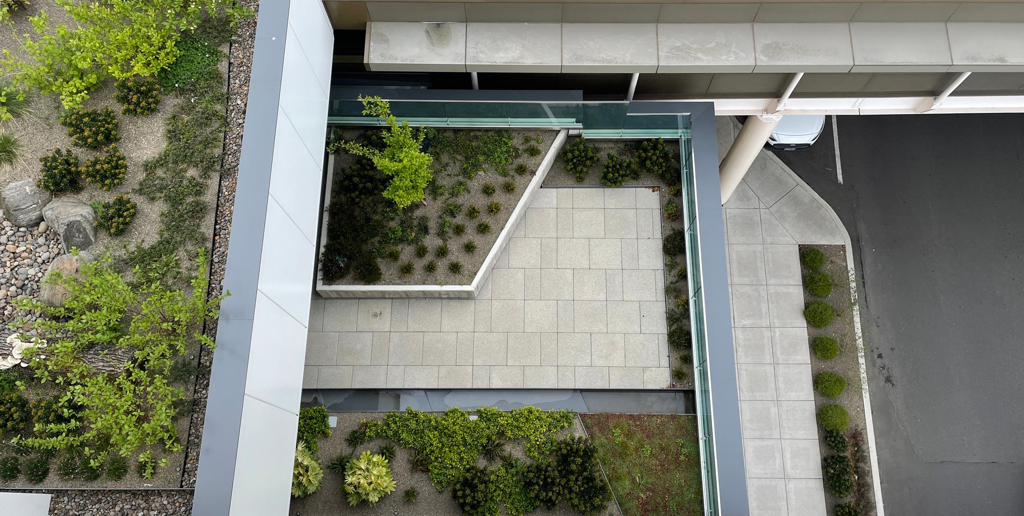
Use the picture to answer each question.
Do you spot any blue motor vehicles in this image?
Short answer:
No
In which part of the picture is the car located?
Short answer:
top right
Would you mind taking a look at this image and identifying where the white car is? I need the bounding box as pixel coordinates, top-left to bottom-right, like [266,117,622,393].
[764,117,829,155]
